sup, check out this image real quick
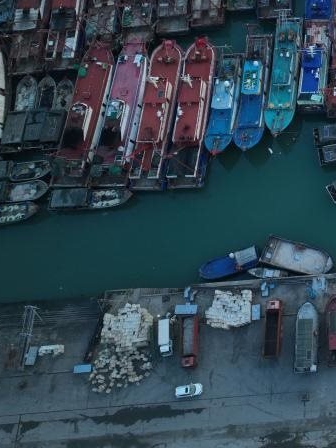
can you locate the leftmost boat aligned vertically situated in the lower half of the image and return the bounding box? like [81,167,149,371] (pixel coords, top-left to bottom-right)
[291,300,322,374]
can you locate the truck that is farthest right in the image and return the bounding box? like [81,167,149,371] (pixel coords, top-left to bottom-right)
[262,300,284,358]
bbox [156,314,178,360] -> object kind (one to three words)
truck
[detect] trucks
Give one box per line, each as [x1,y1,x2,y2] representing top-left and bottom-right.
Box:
[177,315,202,370]
[262,300,284,358]
[156,314,178,360]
